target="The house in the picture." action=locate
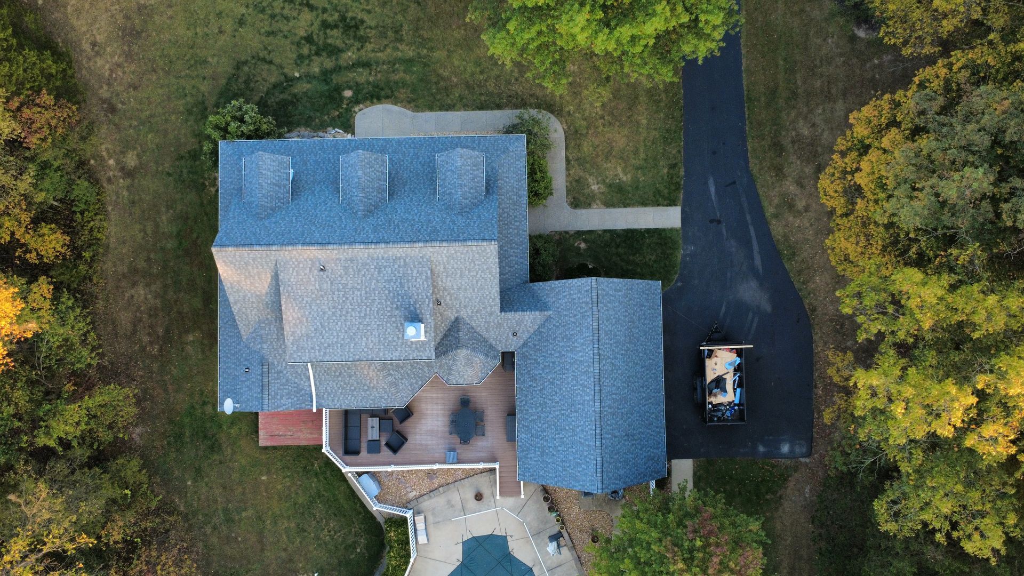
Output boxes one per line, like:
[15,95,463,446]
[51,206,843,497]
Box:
[212,133,670,492]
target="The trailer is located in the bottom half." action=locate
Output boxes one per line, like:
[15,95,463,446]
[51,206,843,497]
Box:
[694,318,747,425]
